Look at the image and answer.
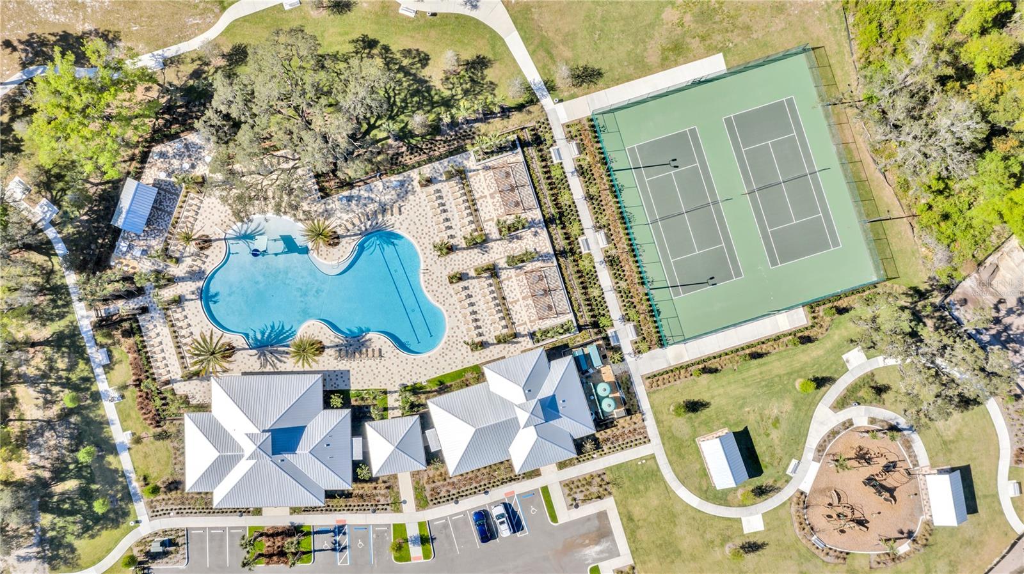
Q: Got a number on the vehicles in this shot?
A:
2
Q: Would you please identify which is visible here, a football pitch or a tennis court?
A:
tennis court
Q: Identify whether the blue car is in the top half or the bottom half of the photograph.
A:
bottom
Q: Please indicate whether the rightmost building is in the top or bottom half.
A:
bottom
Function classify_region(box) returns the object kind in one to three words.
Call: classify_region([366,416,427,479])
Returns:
building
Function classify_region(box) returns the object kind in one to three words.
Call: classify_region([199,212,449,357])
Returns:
swimming pool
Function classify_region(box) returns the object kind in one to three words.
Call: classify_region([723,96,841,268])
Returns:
tennis court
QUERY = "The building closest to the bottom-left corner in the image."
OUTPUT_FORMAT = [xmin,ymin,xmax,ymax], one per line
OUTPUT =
[184,374,353,508]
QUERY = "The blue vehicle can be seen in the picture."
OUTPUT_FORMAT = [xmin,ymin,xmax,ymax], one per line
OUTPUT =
[473,511,493,545]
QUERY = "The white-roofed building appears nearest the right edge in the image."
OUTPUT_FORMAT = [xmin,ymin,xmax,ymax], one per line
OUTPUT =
[919,467,967,527]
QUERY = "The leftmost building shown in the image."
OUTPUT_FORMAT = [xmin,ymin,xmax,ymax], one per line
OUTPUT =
[111,178,164,234]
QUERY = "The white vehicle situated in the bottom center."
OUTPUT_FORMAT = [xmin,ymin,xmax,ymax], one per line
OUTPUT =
[491,506,511,541]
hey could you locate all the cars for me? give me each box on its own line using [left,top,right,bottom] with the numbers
[473,511,493,545]
[491,506,511,541]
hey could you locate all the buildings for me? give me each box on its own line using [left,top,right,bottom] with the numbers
[184,374,353,508]
[111,178,164,234]
[429,348,597,477]
[366,416,427,479]
[699,431,749,490]
[919,467,967,527]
